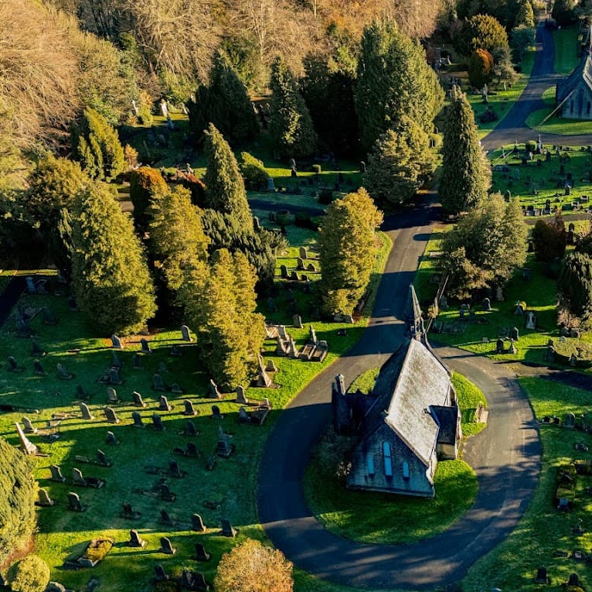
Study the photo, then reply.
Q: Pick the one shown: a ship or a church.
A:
church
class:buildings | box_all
[324,276,468,500]
[554,20,592,120]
